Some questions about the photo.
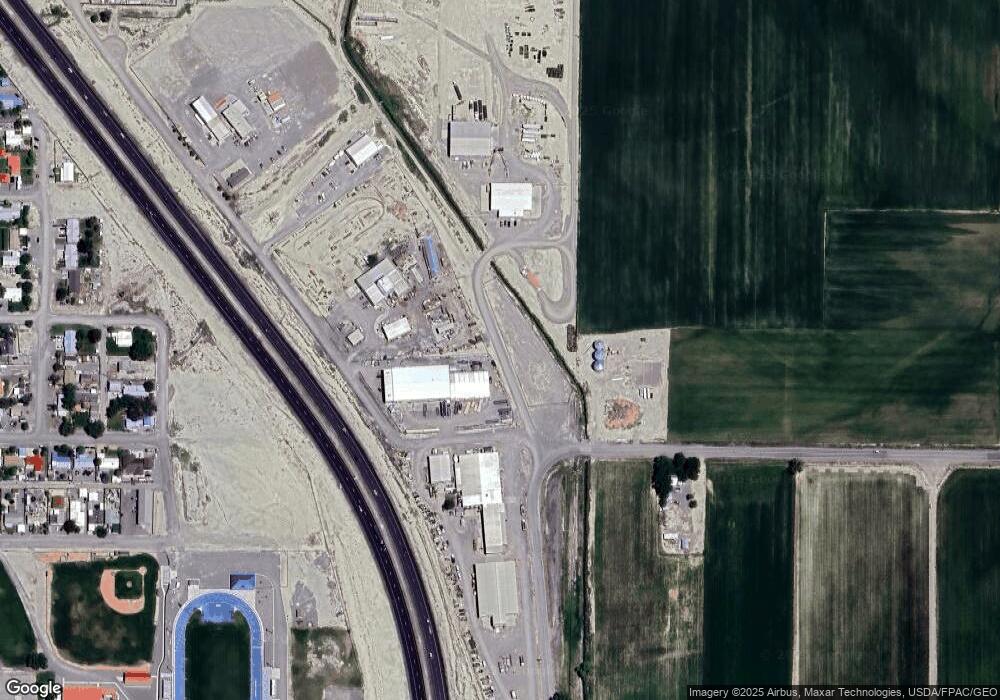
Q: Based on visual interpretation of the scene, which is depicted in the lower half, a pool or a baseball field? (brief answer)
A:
baseball field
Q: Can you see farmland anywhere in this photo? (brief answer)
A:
Yes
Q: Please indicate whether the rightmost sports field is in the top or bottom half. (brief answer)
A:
bottom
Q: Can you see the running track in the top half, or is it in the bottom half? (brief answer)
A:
bottom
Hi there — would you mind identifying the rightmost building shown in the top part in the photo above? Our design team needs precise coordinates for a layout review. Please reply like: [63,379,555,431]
[491,183,532,217]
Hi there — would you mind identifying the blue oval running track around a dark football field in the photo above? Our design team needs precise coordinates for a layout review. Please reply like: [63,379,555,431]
[172,590,265,700]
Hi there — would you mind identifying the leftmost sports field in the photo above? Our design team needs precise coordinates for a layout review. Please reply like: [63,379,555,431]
[0,559,34,666]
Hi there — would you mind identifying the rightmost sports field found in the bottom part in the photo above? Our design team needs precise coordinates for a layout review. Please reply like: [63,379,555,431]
[186,607,250,700]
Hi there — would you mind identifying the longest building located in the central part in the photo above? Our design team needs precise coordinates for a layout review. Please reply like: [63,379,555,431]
[384,365,489,402]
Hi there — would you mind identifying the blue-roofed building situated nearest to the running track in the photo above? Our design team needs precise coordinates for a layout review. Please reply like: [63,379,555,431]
[231,575,255,590]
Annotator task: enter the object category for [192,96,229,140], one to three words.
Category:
shed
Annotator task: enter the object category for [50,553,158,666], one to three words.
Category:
baseball field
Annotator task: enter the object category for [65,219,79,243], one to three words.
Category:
house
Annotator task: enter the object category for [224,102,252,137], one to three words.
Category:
building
